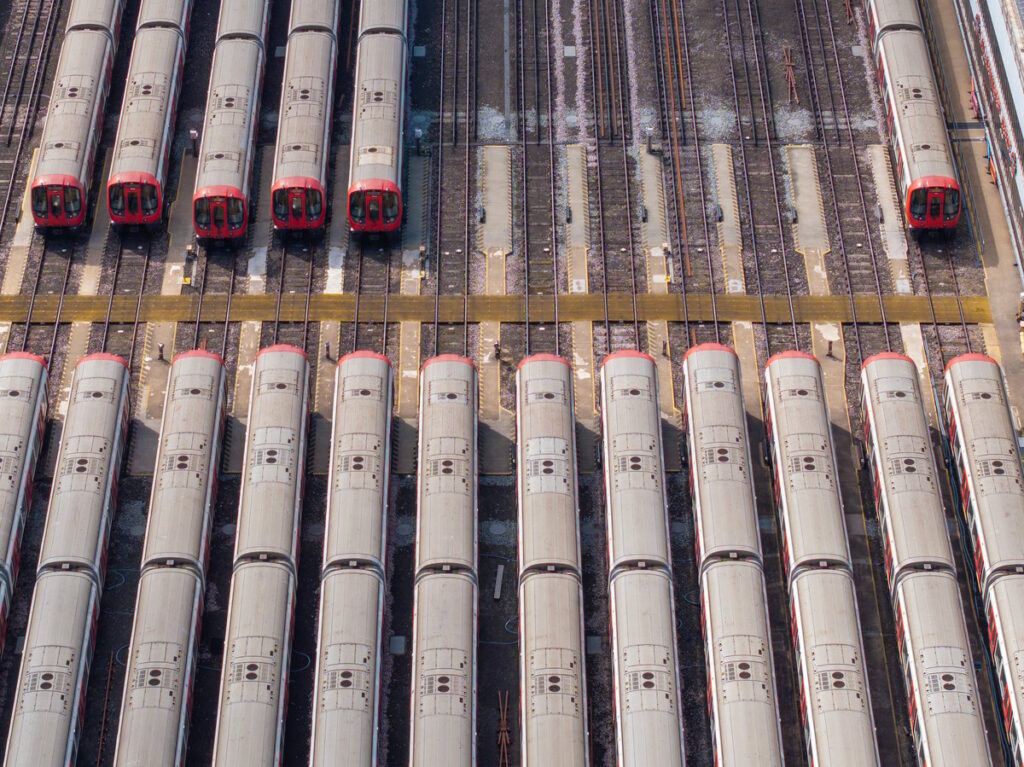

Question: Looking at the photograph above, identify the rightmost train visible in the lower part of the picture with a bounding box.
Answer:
[942,355,1024,767]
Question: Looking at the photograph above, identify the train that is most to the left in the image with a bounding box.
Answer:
[0,354,52,665]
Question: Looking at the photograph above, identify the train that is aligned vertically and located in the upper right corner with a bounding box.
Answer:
[862,0,962,240]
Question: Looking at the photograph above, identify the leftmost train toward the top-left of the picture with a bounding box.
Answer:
[30,0,128,240]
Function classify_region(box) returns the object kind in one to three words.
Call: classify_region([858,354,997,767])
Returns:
train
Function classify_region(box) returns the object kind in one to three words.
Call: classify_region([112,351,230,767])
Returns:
train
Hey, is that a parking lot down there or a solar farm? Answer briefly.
parking lot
